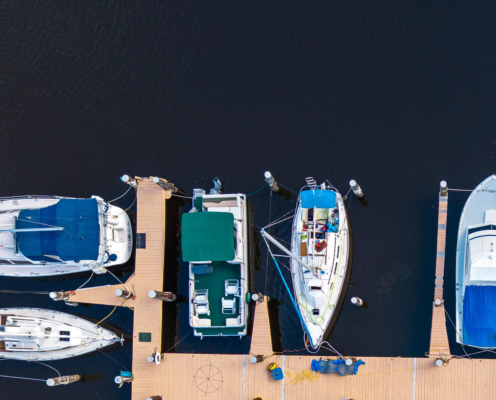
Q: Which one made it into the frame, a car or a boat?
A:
boat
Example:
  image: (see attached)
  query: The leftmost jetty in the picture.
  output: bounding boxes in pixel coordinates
[69,267,137,307]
